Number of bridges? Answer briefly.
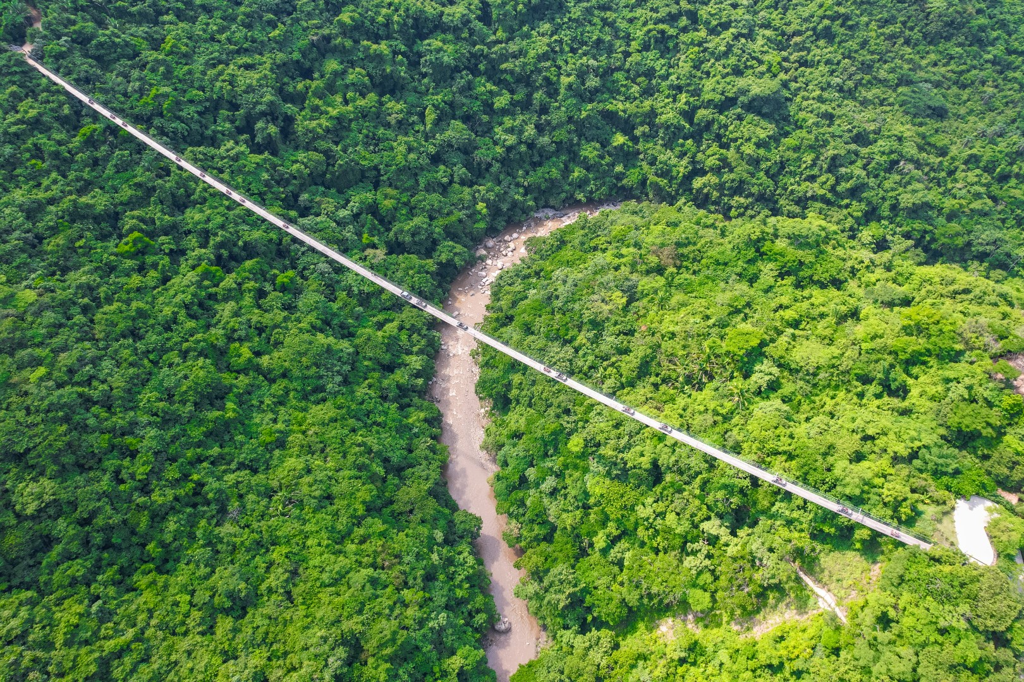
1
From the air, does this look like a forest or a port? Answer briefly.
forest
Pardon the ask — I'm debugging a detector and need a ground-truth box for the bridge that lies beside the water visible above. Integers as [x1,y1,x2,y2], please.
[19,48,939,569]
